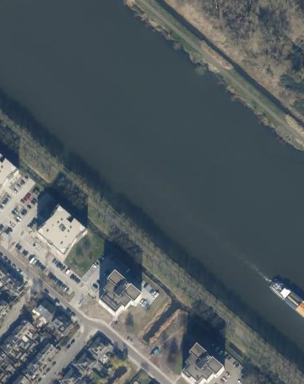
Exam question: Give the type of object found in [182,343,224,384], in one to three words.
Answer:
building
